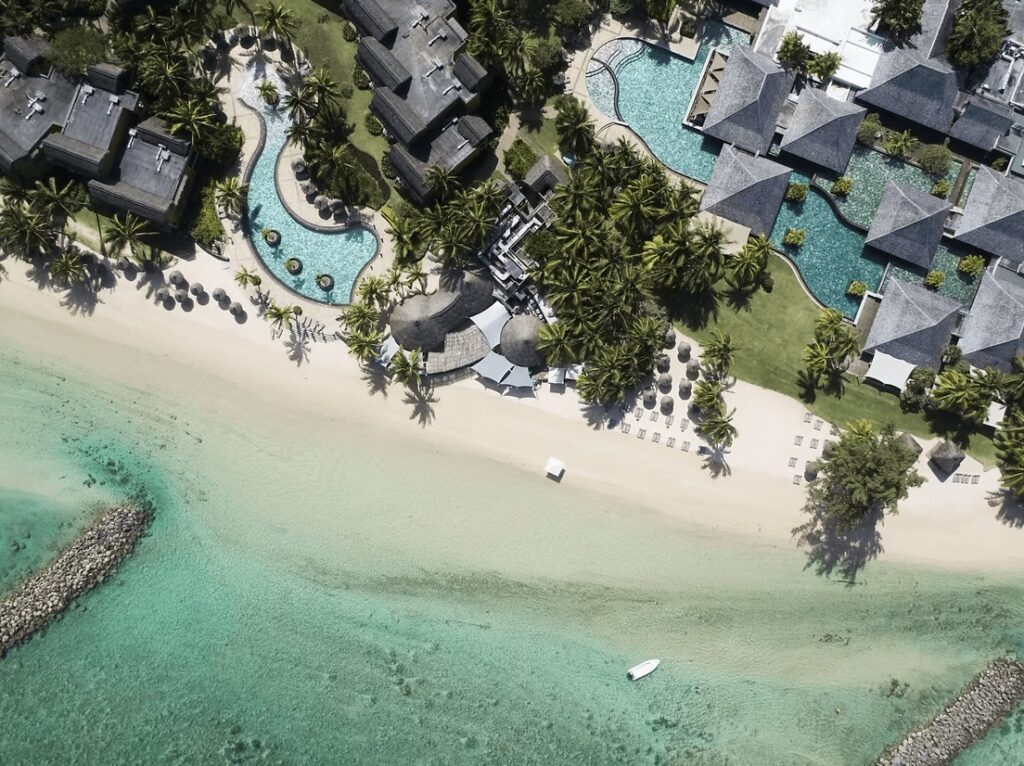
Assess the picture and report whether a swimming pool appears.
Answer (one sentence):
Yes, a swimming pool can be made out from above.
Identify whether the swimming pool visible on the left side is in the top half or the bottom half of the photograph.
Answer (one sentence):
The top half of the photo is where the swimming pool visible on the left side is.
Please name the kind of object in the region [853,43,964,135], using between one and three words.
building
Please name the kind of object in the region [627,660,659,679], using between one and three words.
boat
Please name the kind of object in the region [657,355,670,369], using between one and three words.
umbrella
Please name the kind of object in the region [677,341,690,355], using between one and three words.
umbrella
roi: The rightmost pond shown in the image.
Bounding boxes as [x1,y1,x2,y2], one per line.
[813,140,999,306]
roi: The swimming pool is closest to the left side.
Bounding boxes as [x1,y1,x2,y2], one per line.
[233,57,381,311]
